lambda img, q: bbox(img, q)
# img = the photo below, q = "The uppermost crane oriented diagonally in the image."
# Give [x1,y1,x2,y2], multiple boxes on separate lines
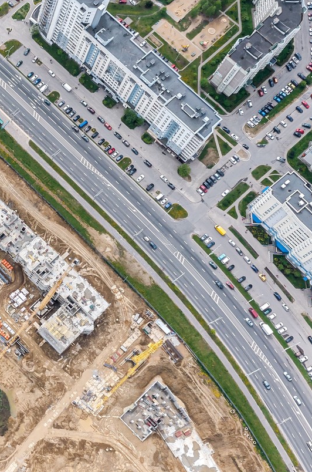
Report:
[0,254,87,358]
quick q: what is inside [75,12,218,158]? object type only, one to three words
building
